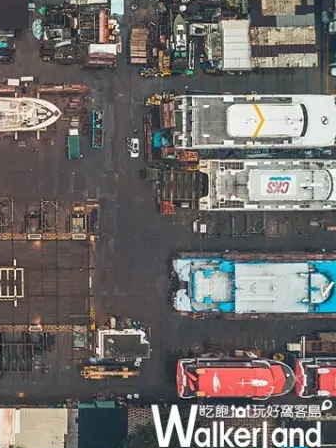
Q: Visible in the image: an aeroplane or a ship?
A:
ship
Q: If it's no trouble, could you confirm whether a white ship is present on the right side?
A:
Yes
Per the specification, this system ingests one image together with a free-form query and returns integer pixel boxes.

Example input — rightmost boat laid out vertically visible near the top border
[173,14,186,51]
